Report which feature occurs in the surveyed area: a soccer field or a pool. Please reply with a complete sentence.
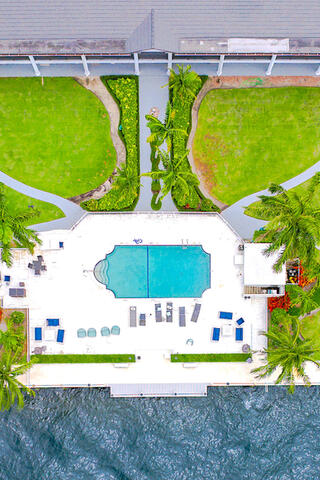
There is a pool in the scene.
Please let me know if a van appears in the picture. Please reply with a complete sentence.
No, the frame has no van in it.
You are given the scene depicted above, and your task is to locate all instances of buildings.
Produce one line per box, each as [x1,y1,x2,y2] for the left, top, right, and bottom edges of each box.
[243,242,286,296]
[0,0,320,76]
